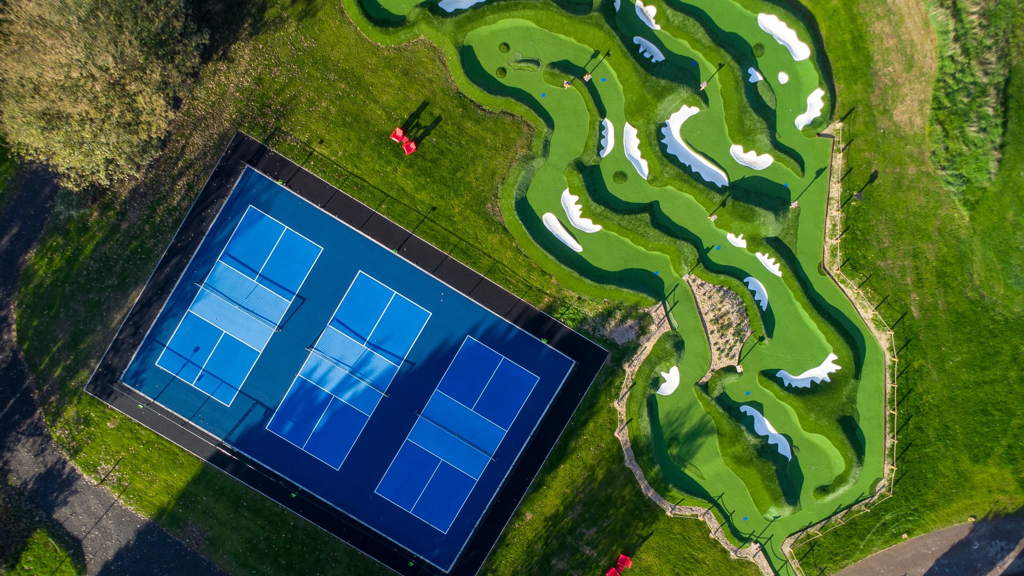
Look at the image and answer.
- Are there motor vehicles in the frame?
No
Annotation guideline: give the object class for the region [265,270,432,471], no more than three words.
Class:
sports court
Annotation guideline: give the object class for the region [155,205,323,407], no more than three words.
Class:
sports court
